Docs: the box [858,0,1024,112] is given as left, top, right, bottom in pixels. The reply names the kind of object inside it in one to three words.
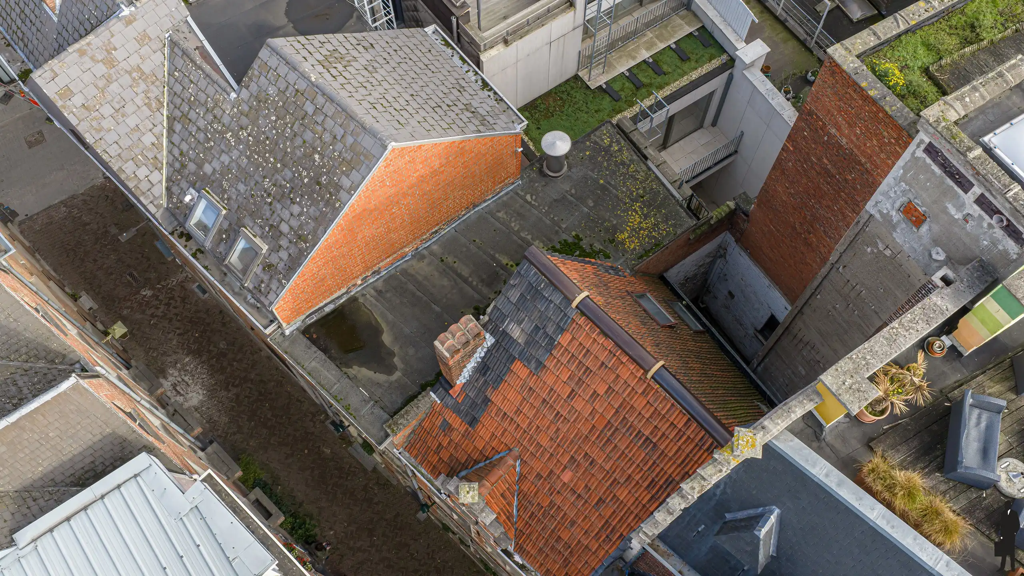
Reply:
building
